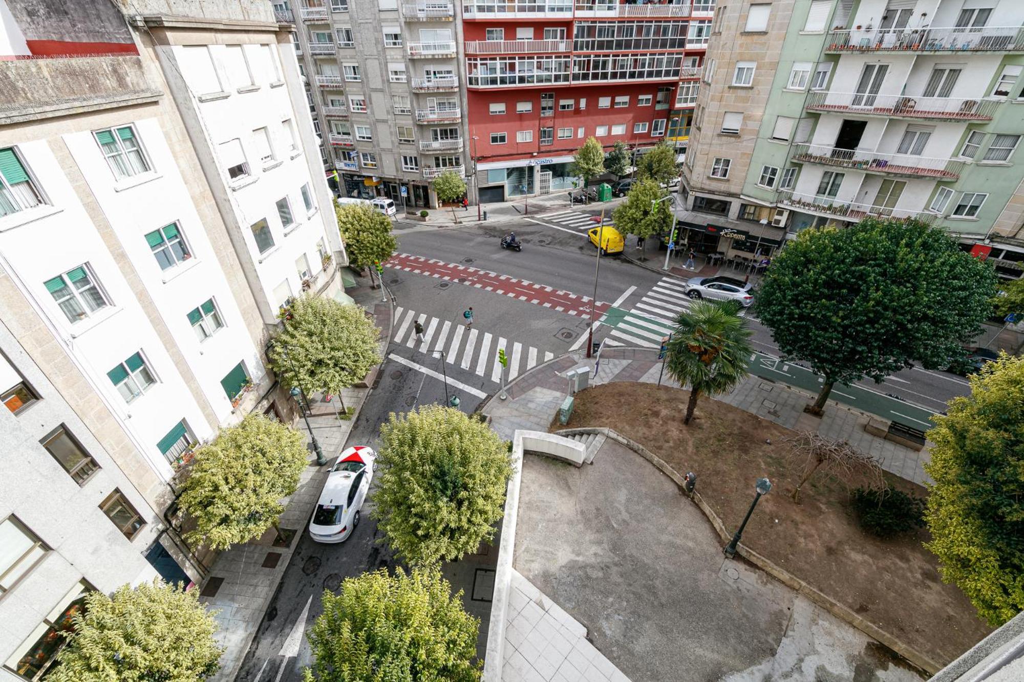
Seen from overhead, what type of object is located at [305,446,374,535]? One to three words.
car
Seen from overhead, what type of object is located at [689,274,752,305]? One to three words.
car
